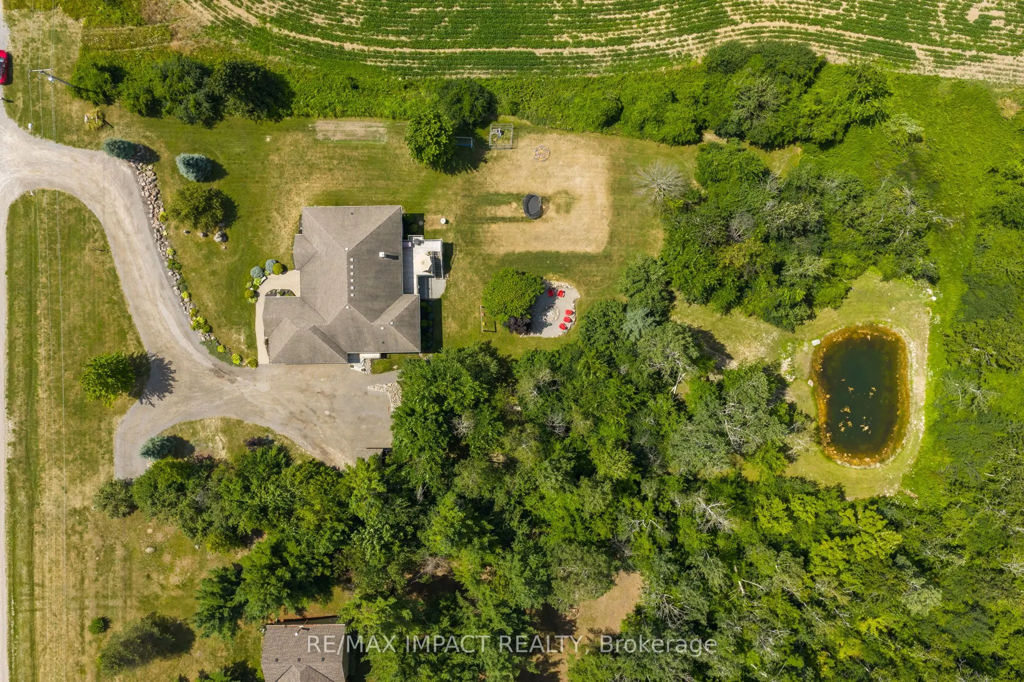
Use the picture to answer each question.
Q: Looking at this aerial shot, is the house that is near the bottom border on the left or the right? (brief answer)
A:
left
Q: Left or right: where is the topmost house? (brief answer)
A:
left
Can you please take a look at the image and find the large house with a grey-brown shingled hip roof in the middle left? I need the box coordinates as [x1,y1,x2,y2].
[263,205,421,364]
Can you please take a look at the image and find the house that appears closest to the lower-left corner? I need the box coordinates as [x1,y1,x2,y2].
[262,617,348,682]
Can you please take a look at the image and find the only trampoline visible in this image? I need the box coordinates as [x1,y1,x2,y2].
[523,190,543,219]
